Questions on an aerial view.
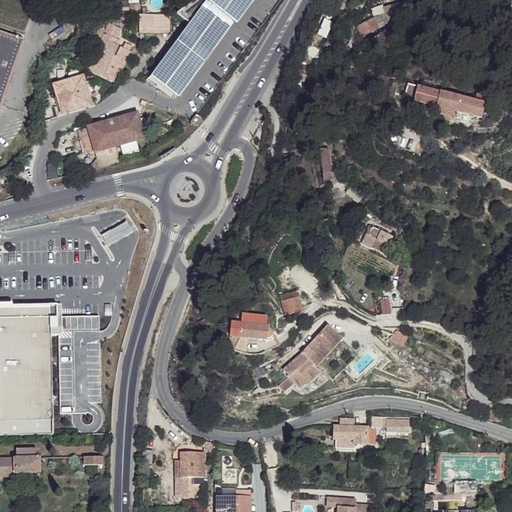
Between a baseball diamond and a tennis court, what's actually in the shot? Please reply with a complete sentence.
The image shows a tennis court.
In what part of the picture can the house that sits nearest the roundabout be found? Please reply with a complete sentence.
The house that sits nearest the roundabout is located in the top left region of the scene.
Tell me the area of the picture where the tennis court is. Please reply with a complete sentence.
Look in the bottom right portion of the view to spot the tennis court.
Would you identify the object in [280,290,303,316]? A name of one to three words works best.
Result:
house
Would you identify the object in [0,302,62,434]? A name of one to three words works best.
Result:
building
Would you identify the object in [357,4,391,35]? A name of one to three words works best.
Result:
house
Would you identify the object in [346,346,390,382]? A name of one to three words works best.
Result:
swimming pool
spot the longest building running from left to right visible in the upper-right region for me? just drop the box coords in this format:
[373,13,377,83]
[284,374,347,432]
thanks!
[414,84,486,118]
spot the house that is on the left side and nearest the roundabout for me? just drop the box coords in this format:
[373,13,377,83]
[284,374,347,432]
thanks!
[78,108,143,152]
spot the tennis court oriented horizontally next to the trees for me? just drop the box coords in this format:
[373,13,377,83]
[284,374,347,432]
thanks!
[436,452,506,484]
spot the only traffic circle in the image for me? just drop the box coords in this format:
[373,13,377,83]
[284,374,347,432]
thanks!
[154,152,220,230]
